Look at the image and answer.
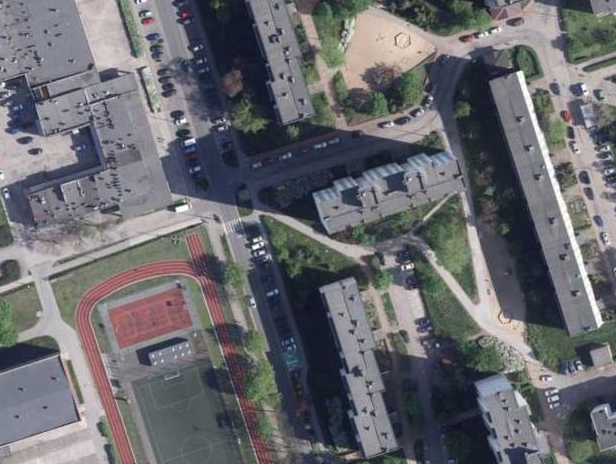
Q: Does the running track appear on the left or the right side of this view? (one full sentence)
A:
It is on the left.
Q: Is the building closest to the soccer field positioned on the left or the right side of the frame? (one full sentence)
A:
The building closest to the soccer field sits on the left side.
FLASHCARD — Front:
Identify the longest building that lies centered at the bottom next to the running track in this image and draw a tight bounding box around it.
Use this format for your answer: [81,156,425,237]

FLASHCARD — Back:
[319,274,402,459]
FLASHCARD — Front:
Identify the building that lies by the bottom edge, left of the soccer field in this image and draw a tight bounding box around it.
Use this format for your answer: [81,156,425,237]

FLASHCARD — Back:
[0,352,82,444]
